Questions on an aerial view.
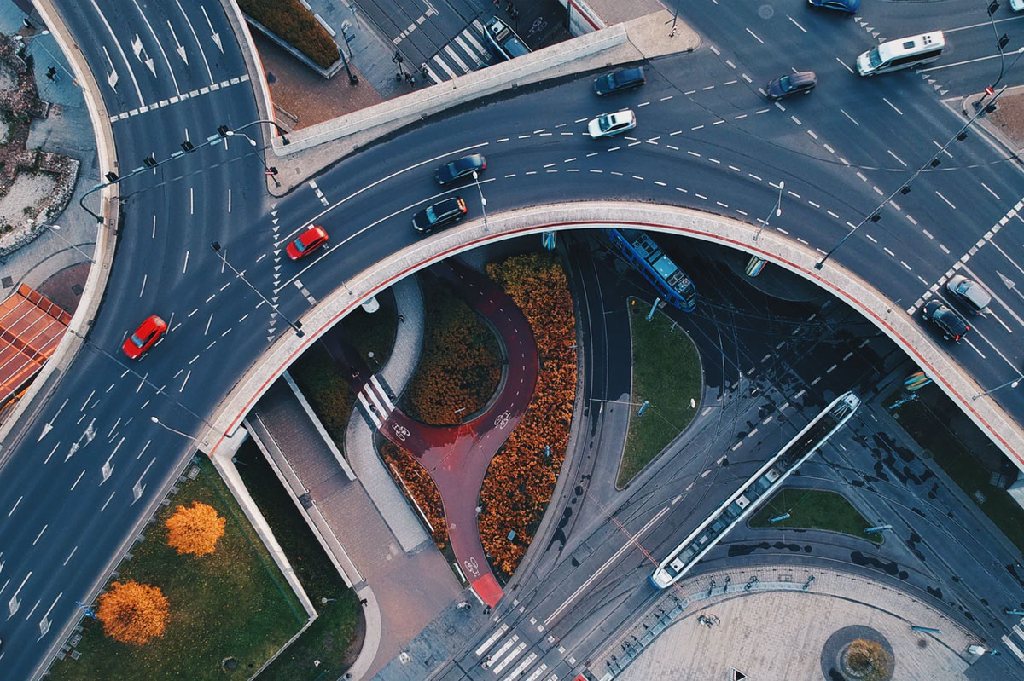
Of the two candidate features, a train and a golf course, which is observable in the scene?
train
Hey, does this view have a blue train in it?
Yes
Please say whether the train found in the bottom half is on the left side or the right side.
right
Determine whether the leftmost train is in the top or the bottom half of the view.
top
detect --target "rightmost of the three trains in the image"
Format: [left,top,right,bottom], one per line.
[651,394,862,588]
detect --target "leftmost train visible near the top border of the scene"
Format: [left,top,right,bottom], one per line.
[484,14,534,62]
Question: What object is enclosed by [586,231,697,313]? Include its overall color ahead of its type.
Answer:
blue train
